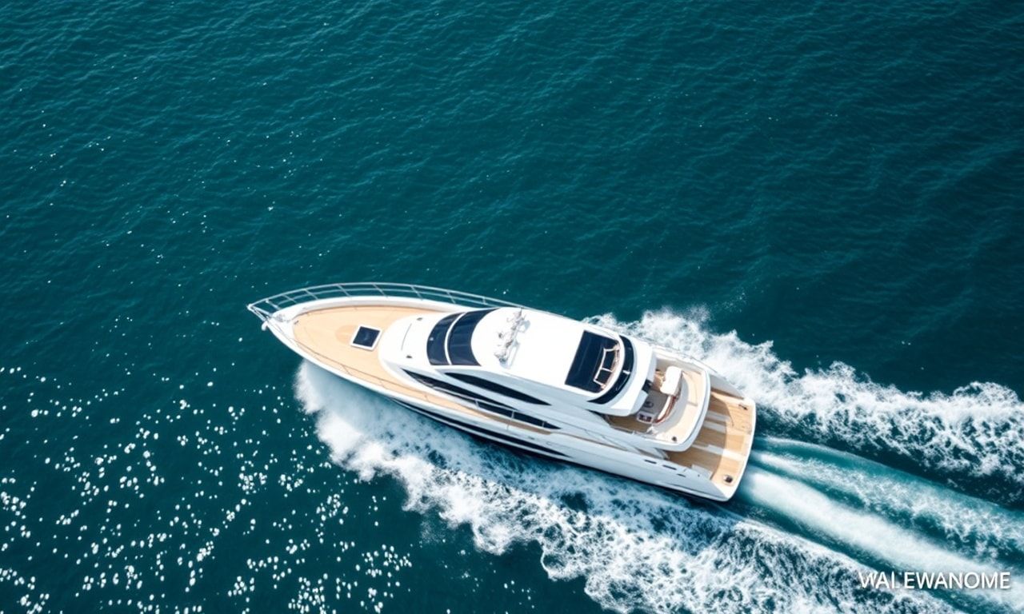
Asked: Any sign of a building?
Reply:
No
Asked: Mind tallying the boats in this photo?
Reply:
1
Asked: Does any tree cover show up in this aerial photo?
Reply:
No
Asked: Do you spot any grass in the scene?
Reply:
No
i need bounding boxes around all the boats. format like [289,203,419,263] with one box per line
[248,283,755,503]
